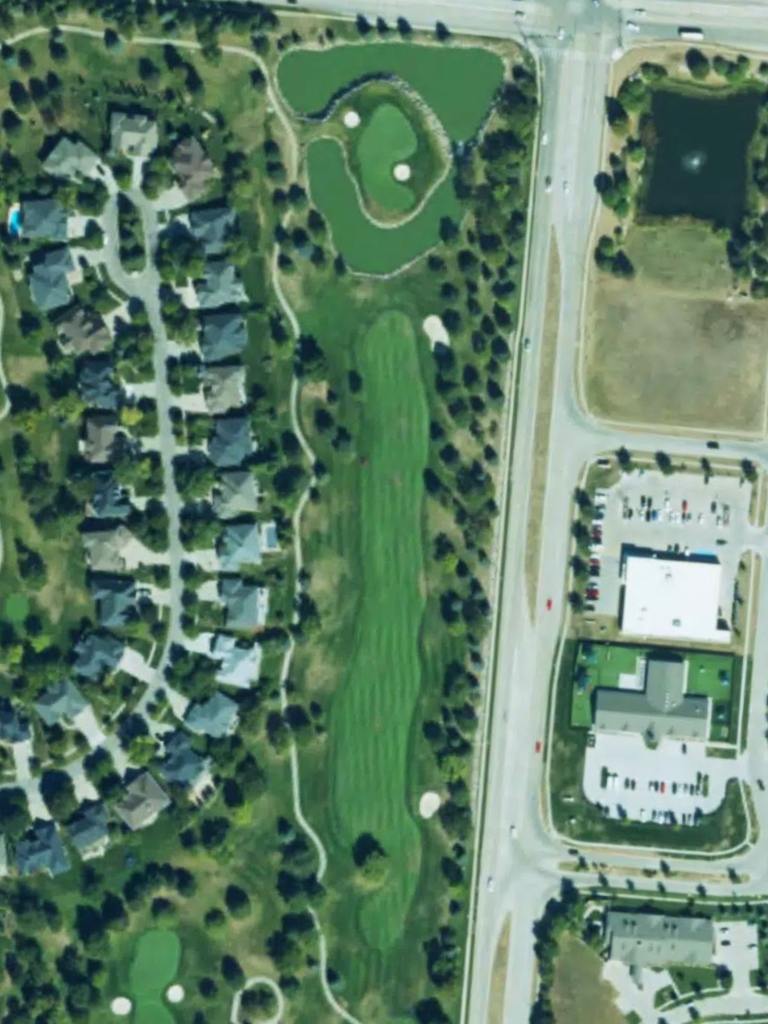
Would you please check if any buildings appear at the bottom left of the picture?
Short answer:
Yes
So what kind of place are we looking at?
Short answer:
golf course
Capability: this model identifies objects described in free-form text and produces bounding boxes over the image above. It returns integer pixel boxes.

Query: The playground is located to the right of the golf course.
[572,644,733,742]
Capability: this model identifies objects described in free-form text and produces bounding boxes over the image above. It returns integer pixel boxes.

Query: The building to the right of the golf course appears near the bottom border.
[607,912,713,991]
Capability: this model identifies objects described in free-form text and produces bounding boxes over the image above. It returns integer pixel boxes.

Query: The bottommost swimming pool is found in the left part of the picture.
[262,522,281,552]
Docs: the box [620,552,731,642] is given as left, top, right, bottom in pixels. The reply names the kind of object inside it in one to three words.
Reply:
building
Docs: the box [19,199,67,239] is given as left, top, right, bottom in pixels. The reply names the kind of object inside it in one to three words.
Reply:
house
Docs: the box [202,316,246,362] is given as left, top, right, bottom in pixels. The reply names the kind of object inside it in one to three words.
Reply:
house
